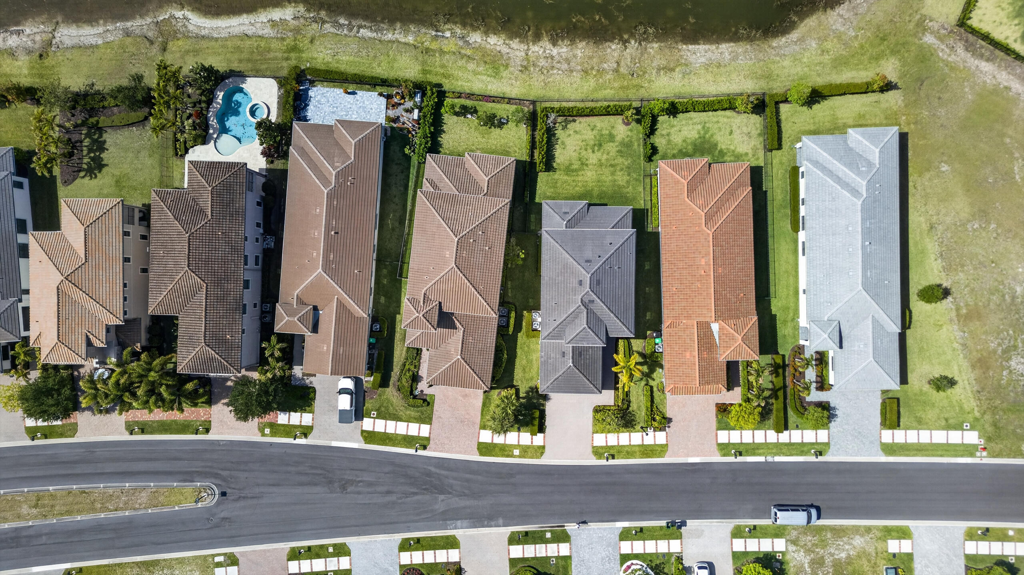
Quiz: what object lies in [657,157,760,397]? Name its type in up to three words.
house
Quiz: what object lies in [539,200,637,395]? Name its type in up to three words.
house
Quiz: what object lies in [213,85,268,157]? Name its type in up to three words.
swimming pool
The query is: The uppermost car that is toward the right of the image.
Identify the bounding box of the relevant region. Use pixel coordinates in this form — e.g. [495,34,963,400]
[769,506,814,527]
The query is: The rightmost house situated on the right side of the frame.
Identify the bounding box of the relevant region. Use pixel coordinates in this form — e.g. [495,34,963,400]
[795,125,902,391]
